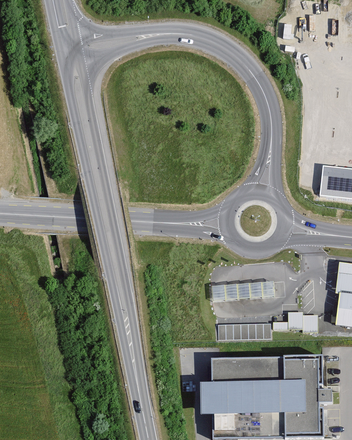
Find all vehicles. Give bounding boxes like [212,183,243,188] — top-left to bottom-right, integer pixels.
[323,0,329,12]
[328,378,340,384]
[328,368,340,374]
[315,0,322,15]
[134,400,140,413]
[179,37,193,44]
[299,15,306,42]
[304,52,312,68]
[330,426,344,432]
[304,221,317,229]
[210,232,224,240]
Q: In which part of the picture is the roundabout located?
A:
right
